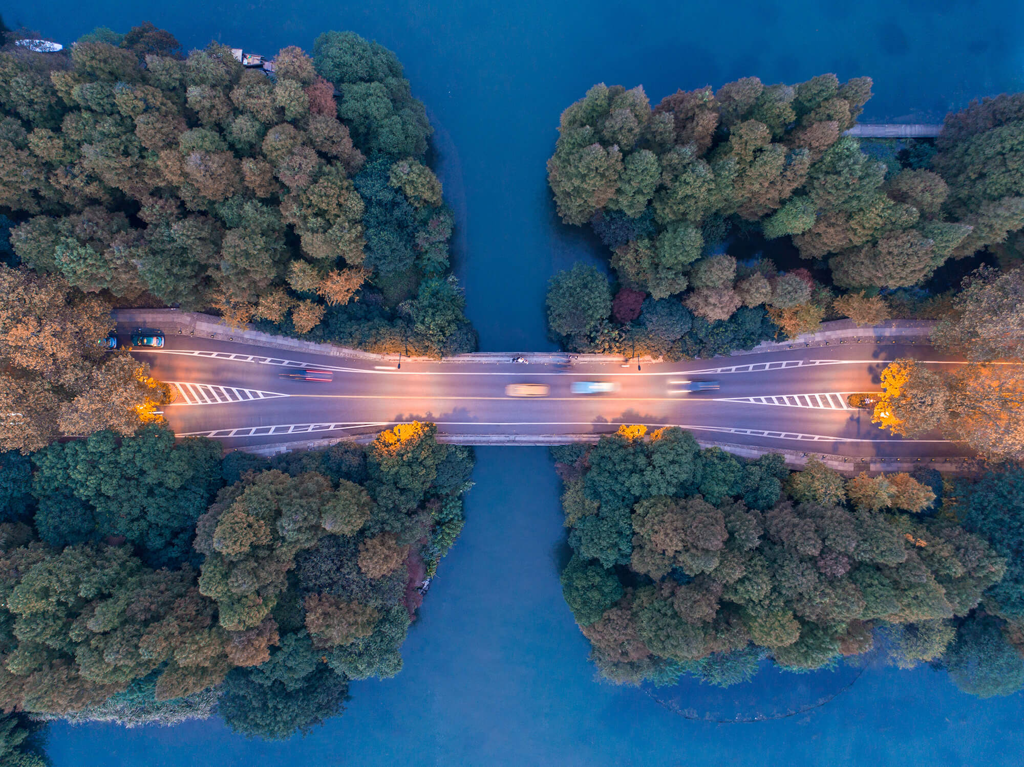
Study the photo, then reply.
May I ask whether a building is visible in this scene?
No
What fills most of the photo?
trees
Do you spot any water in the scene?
Yes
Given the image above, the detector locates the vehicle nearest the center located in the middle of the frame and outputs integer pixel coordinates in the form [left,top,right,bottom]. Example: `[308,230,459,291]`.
[511,383,544,398]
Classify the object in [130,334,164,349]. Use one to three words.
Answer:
car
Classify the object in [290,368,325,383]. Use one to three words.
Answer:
car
